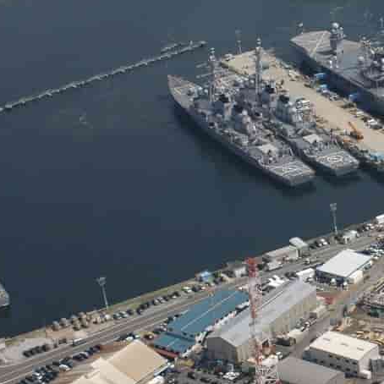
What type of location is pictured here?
port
